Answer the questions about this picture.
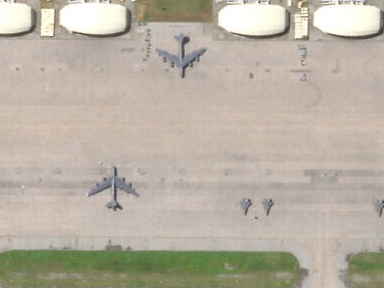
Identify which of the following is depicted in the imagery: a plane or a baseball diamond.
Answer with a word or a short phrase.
plane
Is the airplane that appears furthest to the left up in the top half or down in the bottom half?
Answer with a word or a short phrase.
bottom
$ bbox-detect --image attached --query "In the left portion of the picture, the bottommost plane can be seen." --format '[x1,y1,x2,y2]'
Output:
[88,167,139,210]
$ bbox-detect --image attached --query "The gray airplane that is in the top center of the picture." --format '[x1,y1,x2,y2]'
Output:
[156,33,207,78]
